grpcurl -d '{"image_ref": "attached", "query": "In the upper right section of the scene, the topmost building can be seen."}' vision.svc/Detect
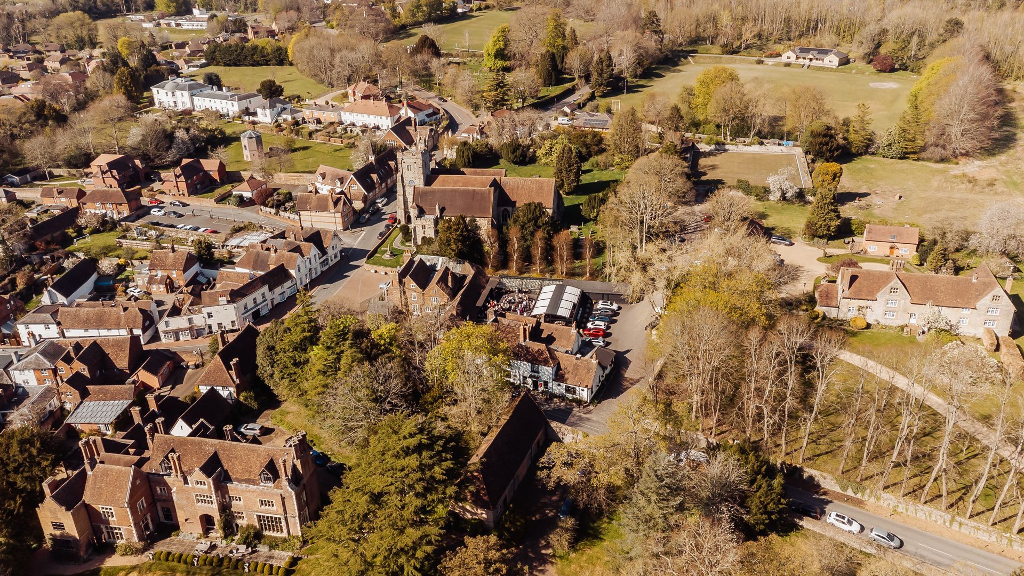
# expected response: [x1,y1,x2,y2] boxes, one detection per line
[773,47,845,67]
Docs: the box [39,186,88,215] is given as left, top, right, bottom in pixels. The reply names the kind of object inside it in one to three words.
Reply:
house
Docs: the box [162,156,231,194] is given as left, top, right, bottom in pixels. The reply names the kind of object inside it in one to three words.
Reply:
house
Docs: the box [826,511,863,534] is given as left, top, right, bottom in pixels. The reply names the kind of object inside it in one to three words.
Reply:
car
